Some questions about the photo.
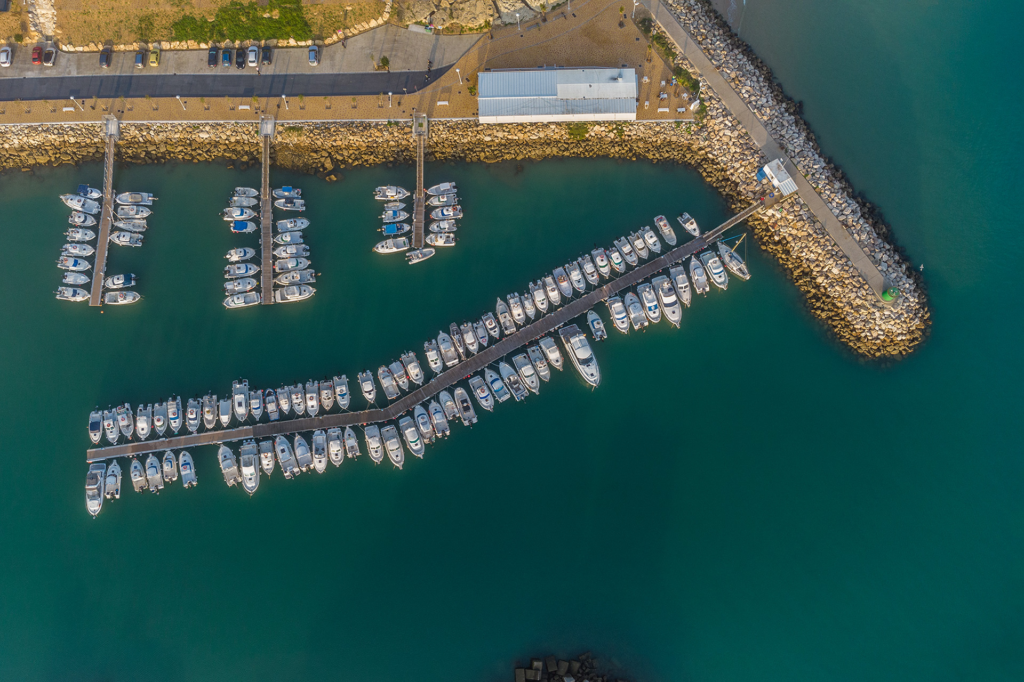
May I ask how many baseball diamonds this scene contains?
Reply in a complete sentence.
The photo contains no baseball diamonds.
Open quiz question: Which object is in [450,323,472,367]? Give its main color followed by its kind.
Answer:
gray boat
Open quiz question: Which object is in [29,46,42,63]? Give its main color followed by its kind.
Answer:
red vehicle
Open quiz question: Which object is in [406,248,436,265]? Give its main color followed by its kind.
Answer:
gray boat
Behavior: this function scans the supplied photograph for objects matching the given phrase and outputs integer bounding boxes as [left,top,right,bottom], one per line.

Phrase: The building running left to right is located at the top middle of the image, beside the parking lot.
[478,64,639,124]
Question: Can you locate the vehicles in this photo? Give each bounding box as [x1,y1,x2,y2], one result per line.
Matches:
[97,48,112,67]
[148,48,161,66]
[206,47,218,67]
[260,45,271,64]
[0,46,12,66]
[133,50,146,67]
[307,45,318,65]
[246,46,258,66]
[233,48,246,69]
[220,48,232,66]
[42,48,56,65]
[29,46,42,63]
